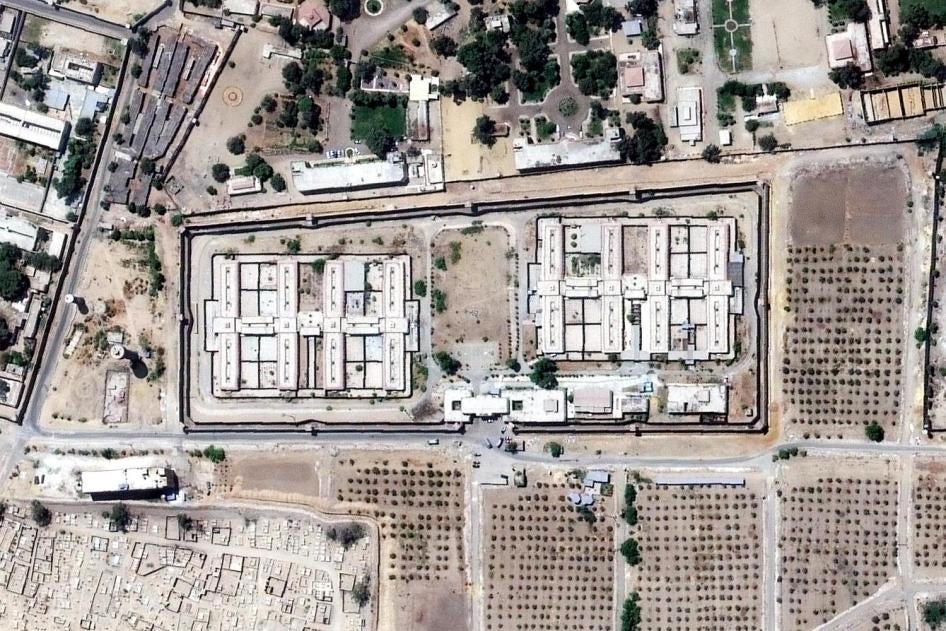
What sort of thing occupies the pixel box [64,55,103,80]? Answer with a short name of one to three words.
house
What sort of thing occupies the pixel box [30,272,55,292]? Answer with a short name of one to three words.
house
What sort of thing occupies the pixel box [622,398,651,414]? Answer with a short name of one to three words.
building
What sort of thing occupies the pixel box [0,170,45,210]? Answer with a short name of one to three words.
shed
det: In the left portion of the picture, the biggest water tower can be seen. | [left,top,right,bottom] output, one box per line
[112,345,140,360]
